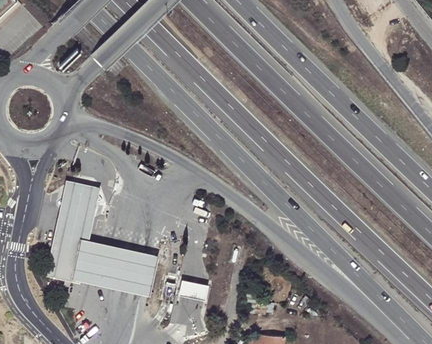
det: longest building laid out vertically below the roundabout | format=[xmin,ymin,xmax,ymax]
[47,181,100,282]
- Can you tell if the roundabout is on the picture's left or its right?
left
